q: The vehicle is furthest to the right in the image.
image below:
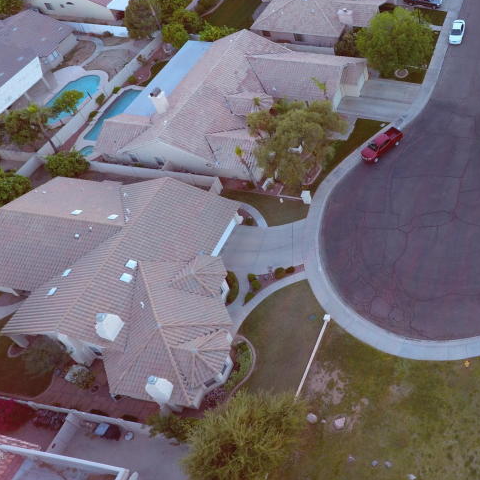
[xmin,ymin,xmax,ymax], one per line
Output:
[449,20,464,42]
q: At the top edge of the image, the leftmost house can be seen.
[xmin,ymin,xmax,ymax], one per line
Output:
[0,9,79,114]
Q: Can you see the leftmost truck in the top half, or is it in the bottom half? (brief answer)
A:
top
